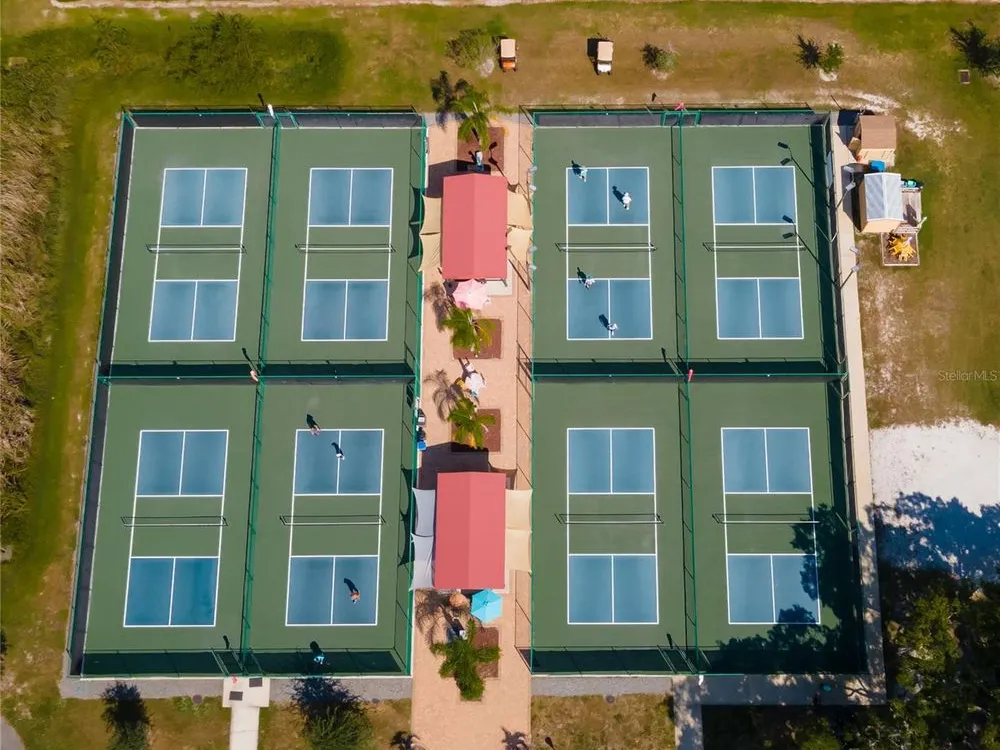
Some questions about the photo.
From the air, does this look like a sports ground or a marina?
sports ground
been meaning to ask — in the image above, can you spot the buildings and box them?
[858,172,905,232]
[441,174,513,295]
[435,471,511,596]
[846,116,899,160]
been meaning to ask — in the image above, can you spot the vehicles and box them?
[596,41,615,76]
[499,38,518,74]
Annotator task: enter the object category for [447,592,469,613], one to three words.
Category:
umbrella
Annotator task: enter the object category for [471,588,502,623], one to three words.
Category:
umbrella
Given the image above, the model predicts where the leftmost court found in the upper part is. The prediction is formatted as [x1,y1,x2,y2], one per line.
[111,126,279,381]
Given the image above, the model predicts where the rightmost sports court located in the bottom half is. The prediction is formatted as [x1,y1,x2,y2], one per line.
[688,383,867,674]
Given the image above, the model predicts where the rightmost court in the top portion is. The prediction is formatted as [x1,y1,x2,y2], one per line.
[680,124,847,380]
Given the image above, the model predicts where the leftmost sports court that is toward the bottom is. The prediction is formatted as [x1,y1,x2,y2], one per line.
[84,384,264,677]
